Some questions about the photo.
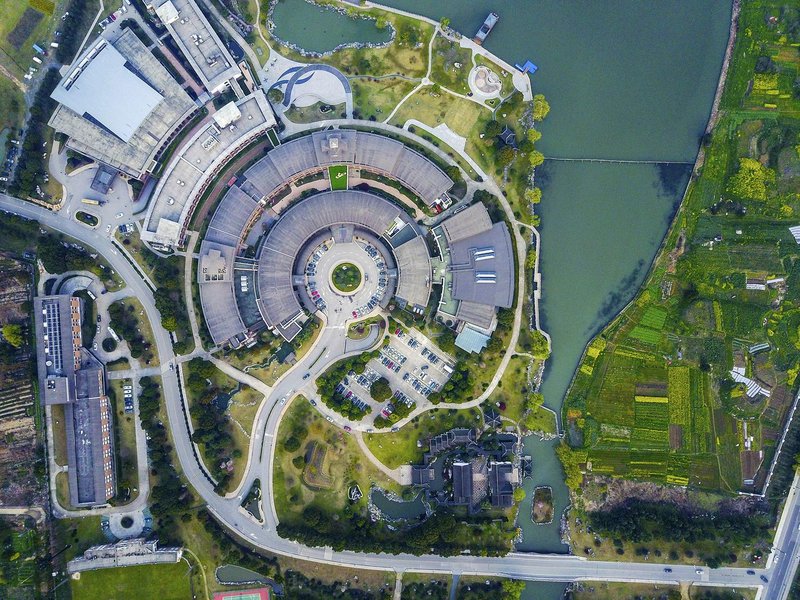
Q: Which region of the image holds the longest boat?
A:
top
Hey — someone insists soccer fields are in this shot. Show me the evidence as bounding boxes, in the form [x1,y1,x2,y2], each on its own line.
[70,562,193,600]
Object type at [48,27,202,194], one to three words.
building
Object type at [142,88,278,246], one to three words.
building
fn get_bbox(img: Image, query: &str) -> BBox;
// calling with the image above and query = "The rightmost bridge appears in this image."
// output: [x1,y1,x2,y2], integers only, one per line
[499,555,589,584]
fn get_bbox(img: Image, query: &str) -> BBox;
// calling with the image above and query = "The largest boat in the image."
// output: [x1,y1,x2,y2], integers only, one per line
[473,15,495,45]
